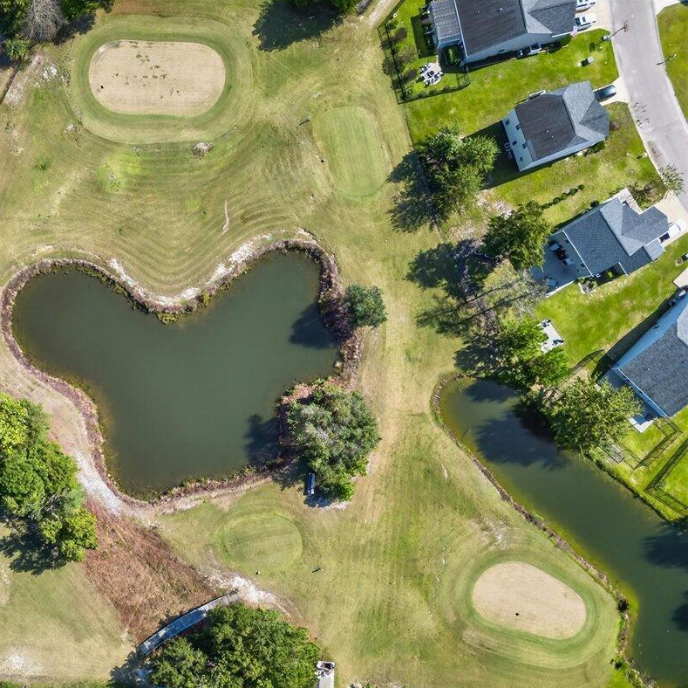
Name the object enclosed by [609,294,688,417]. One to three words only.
house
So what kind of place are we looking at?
golf course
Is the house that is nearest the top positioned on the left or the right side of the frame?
right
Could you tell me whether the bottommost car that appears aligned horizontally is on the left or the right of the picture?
right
